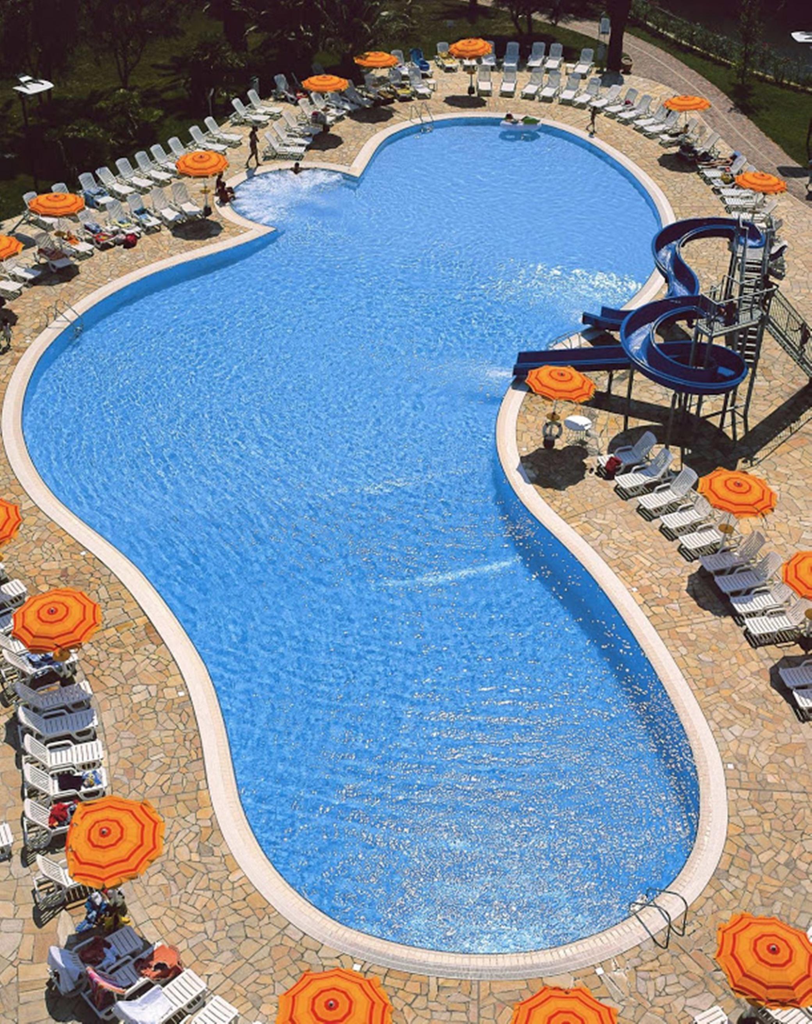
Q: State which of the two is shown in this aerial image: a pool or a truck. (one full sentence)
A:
The image shows a pool.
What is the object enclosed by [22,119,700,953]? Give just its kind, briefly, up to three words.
swimming pool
